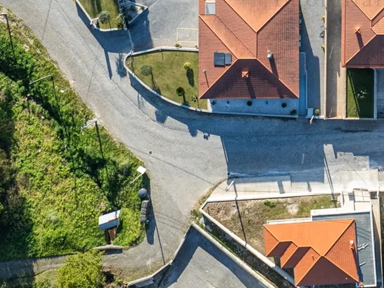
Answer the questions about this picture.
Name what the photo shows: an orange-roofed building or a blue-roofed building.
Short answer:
orange-roofed building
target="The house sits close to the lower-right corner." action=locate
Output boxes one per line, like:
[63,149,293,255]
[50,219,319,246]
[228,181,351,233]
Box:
[263,207,377,287]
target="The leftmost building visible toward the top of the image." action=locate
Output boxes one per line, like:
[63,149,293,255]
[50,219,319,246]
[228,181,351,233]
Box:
[199,0,301,99]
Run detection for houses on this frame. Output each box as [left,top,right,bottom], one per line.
[199,0,301,99]
[263,207,377,287]
[343,0,384,67]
